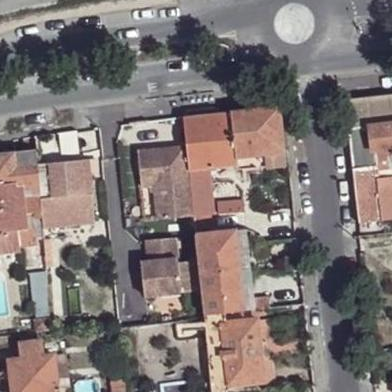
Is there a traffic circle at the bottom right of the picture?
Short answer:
No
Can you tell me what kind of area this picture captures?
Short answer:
residential area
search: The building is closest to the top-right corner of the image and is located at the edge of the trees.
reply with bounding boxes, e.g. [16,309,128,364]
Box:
[352,96,392,120]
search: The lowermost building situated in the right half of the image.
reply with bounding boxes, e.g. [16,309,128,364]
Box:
[206,312,276,392]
